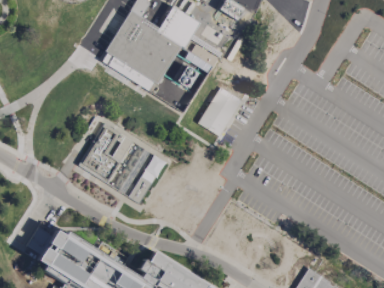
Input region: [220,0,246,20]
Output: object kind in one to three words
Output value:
building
